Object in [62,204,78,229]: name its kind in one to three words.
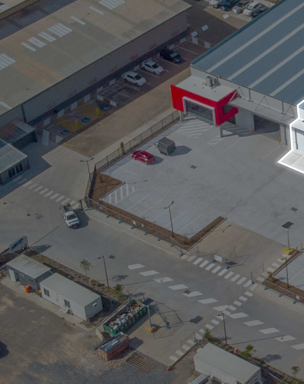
vehicle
